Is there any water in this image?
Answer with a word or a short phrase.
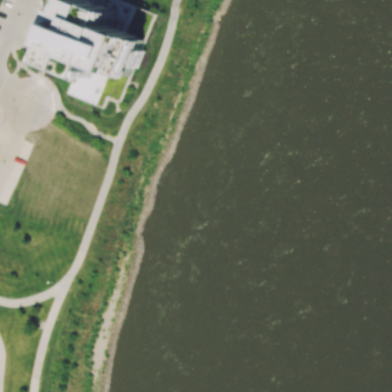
Yes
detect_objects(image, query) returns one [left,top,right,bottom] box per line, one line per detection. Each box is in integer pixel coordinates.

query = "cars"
[2,1,14,9]
[15,157,26,165]
[0,12,8,18]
